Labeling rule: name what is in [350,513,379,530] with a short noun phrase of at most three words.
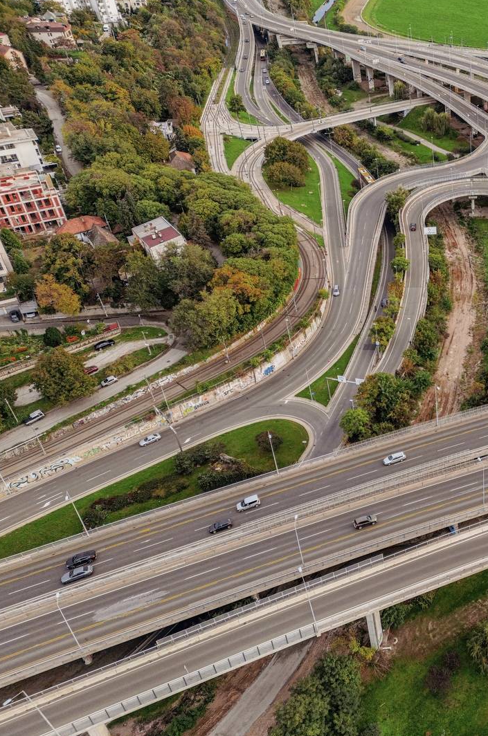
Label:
car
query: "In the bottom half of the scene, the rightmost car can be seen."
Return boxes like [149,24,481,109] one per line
[380,450,407,466]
